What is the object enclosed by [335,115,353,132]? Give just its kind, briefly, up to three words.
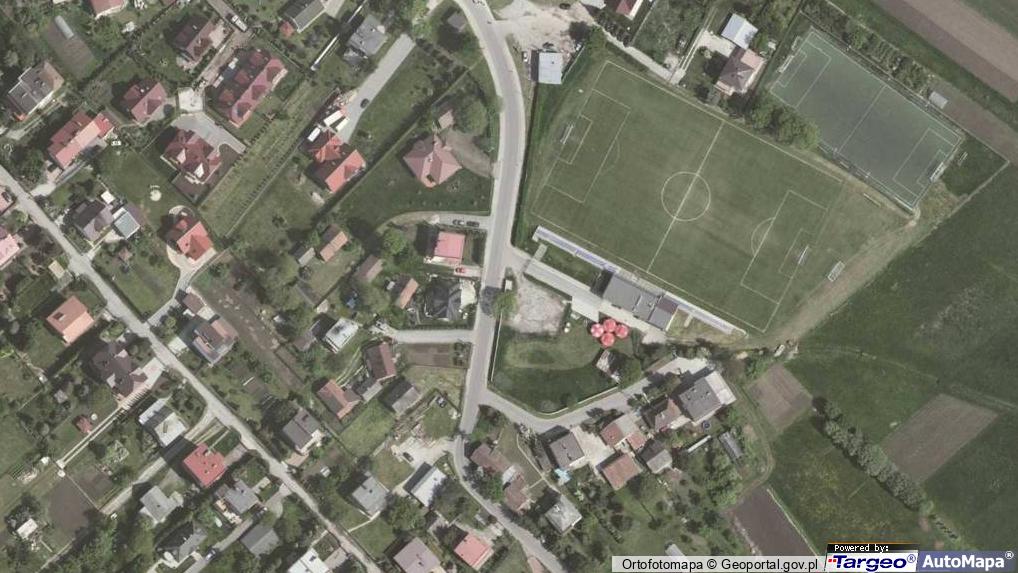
vehicle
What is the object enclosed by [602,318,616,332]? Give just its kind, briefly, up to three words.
umbrella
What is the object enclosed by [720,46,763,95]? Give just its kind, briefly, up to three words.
house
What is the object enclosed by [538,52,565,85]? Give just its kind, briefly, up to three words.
building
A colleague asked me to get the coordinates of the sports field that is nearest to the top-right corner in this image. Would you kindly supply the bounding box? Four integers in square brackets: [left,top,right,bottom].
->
[767,24,962,205]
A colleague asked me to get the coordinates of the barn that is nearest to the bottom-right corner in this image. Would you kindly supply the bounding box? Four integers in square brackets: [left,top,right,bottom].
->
[719,431,745,463]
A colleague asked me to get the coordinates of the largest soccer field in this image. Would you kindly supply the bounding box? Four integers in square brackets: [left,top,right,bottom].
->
[528,58,844,336]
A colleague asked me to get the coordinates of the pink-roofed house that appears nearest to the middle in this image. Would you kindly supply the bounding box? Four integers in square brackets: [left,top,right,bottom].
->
[438,233,466,261]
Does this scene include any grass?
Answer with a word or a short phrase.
Yes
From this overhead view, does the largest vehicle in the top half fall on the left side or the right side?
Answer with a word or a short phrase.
left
